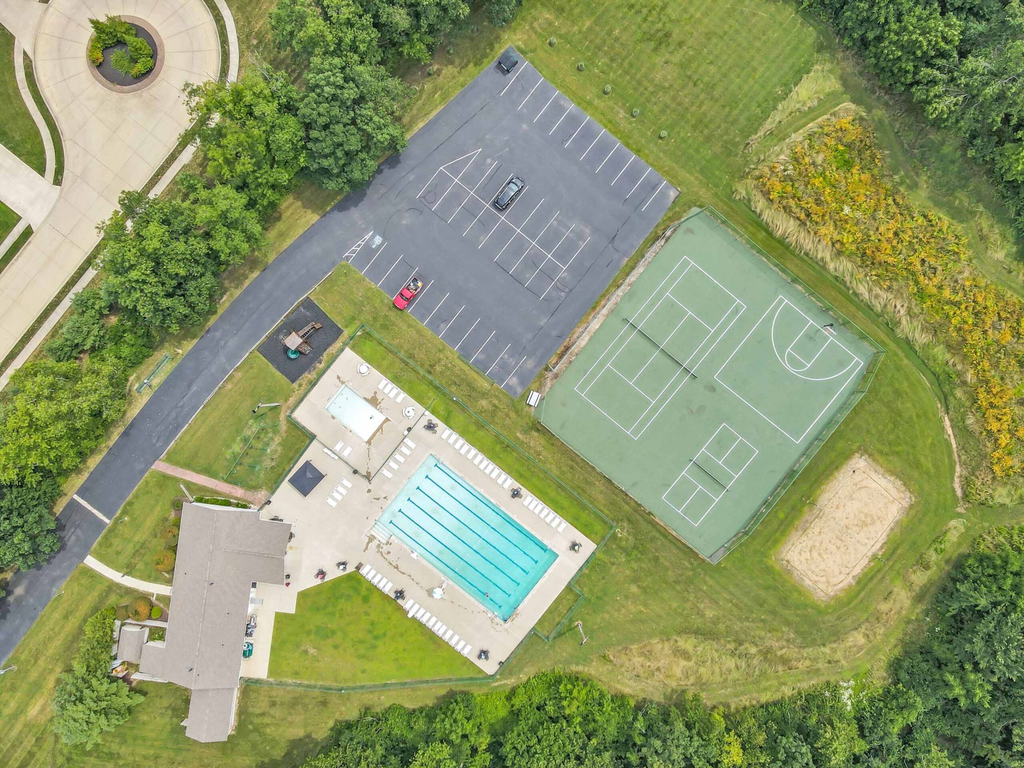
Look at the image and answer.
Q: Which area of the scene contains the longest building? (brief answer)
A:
bottom left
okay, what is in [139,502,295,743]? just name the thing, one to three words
building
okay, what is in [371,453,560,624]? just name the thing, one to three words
swimming pool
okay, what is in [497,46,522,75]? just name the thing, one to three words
car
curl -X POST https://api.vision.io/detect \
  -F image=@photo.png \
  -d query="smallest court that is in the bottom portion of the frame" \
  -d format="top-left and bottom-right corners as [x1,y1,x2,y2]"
[777,451,917,605]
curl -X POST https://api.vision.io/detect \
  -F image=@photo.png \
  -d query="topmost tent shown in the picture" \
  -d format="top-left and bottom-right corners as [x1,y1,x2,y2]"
[288,457,332,497]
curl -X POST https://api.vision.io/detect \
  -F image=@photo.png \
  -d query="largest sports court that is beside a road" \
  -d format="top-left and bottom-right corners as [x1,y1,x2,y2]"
[535,207,875,558]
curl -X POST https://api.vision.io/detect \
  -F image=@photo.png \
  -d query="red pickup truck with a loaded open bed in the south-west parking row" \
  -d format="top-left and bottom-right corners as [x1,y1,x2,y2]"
[394,275,424,312]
